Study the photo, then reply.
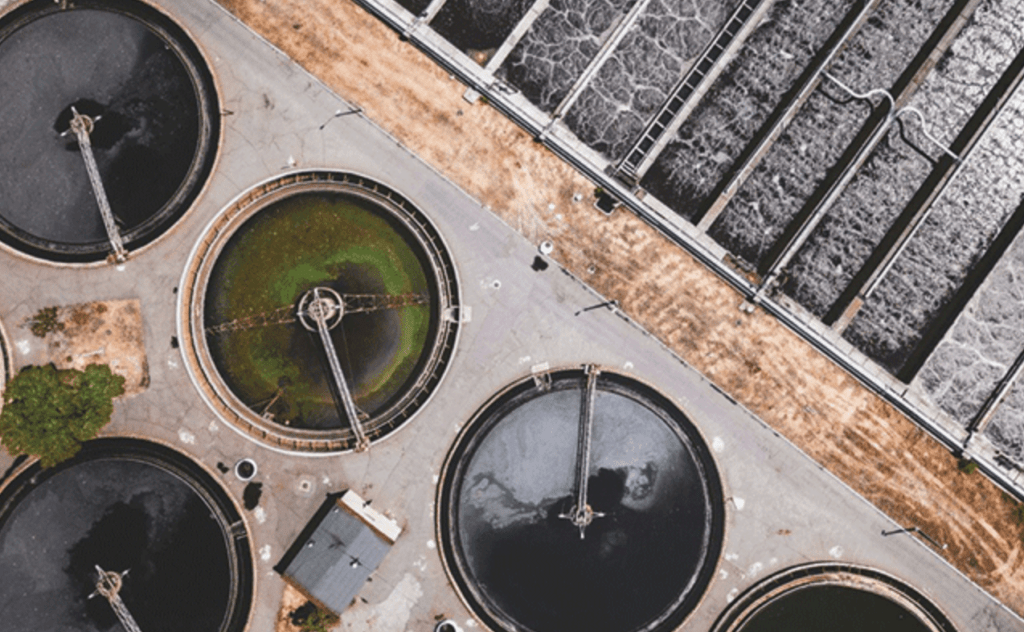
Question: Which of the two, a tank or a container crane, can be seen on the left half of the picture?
tank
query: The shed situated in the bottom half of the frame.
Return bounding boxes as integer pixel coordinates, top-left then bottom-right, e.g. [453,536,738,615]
[282,491,400,617]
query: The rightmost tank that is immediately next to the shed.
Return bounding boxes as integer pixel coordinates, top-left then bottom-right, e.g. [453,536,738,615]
[435,364,728,632]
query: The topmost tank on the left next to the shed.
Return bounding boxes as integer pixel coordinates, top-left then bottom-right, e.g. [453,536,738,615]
[176,170,470,456]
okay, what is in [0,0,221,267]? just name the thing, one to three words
storage tank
